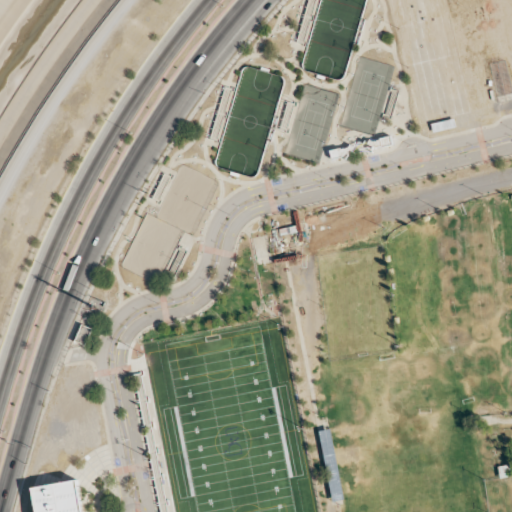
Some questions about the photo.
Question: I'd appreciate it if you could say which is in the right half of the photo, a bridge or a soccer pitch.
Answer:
soccer pitch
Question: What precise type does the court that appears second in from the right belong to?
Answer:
tennis court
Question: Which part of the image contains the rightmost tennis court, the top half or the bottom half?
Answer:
top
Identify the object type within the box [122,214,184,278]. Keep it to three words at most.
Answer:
sports court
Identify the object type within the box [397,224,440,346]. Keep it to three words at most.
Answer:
soccer field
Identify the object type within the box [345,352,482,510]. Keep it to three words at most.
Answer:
soccer field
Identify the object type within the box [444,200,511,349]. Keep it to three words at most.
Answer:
sports field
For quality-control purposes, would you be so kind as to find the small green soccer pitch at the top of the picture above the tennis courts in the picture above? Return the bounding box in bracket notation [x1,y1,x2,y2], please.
[303,0,363,78]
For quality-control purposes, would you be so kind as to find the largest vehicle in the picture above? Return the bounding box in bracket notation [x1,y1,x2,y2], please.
[64,256,81,290]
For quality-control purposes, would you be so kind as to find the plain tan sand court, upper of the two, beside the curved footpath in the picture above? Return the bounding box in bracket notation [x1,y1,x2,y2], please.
[159,165,218,234]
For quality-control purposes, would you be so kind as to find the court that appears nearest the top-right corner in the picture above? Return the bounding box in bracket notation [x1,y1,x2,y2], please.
[340,57,392,134]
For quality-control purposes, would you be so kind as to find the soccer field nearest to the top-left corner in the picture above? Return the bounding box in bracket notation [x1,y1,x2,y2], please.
[216,67,280,177]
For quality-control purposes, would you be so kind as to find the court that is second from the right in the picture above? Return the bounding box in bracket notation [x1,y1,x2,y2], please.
[284,83,336,162]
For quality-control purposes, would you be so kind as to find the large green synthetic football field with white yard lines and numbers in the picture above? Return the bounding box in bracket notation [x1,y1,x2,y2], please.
[144,318,316,512]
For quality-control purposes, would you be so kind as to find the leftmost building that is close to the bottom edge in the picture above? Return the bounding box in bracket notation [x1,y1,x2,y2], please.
[28,481,83,512]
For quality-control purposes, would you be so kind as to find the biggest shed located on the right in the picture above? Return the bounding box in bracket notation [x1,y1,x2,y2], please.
[320,429,343,502]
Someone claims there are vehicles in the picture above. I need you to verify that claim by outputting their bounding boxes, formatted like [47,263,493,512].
[10,460,16,469]
[194,54,206,66]
[64,256,81,290]
[300,306,305,316]
[93,237,100,246]
[263,2,271,10]
[2,489,8,498]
